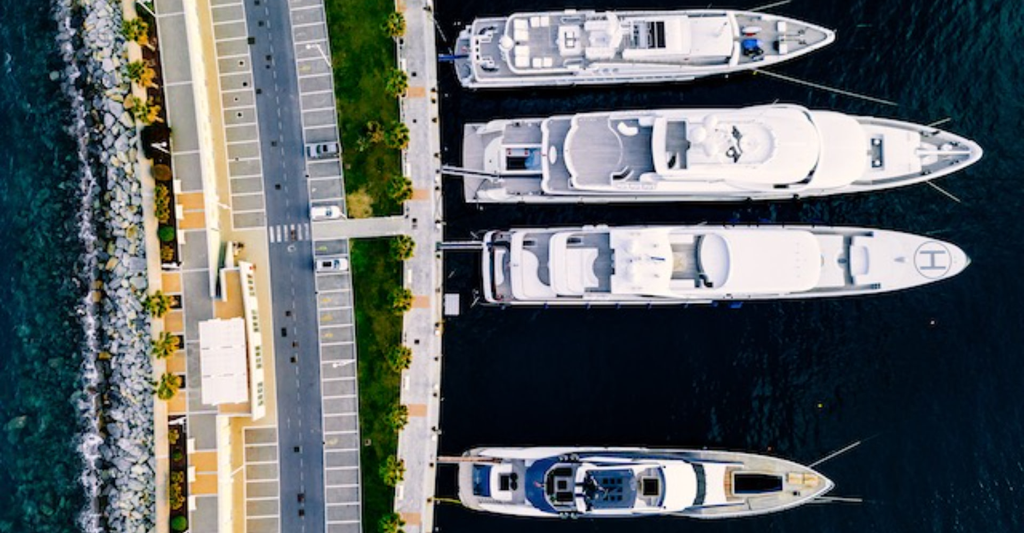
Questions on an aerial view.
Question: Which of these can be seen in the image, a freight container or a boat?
boat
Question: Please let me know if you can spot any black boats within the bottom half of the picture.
No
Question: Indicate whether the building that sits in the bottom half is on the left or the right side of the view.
left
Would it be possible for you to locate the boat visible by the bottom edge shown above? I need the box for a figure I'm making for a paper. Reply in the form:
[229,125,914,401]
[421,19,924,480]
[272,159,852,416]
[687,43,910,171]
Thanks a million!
[460,444,833,519]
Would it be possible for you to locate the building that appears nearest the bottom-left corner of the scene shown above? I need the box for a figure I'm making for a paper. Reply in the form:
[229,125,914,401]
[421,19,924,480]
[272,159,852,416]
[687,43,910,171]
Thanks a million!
[201,262,265,418]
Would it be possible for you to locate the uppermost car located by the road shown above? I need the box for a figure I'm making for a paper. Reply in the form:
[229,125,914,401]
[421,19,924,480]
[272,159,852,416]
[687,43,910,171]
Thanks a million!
[308,143,339,158]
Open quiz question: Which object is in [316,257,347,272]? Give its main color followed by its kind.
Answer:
white car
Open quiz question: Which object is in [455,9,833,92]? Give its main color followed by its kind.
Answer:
white boat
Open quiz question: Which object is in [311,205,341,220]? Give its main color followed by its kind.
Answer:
white car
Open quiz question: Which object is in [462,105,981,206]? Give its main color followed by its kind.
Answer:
white boat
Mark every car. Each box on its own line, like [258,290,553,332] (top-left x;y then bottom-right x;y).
[316,257,347,272]
[311,205,341,220]
[308,143,339,158]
